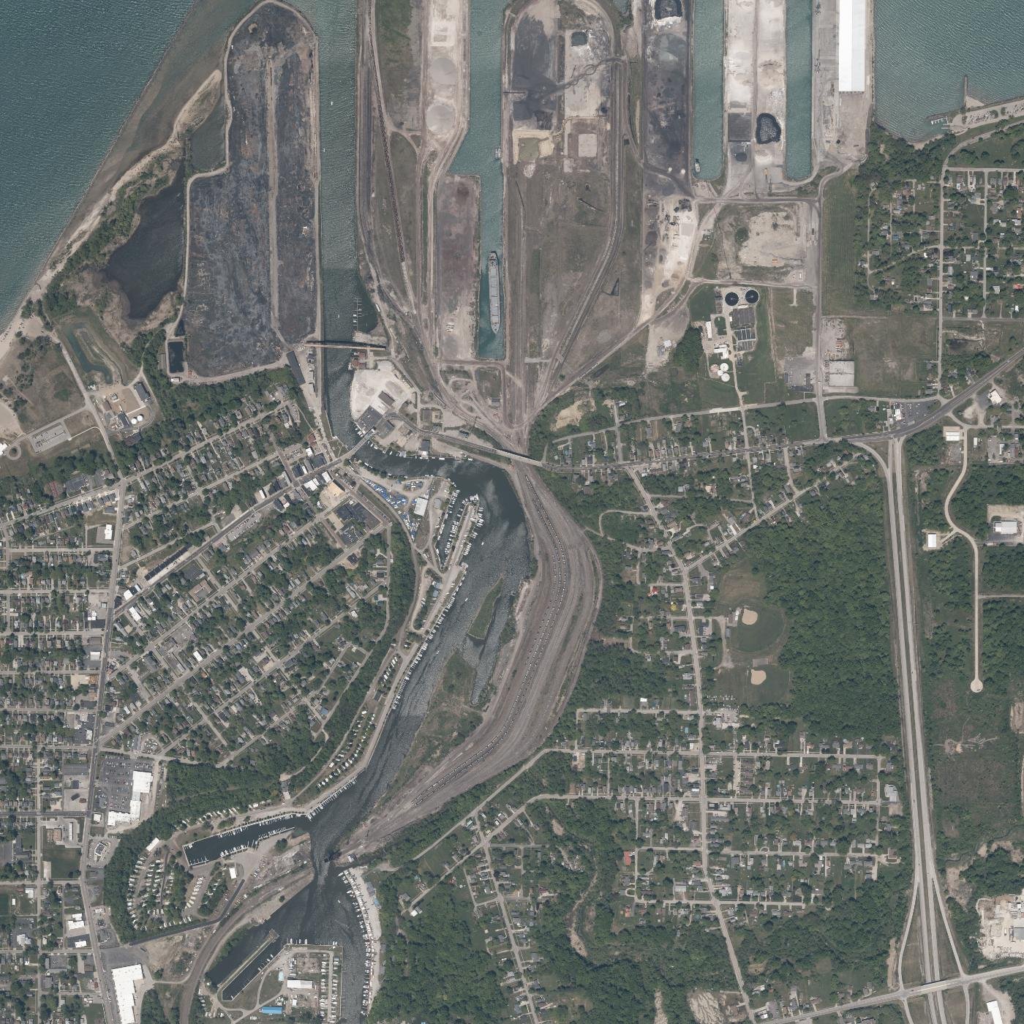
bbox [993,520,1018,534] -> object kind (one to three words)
building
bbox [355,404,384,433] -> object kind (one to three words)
building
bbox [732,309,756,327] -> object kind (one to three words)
house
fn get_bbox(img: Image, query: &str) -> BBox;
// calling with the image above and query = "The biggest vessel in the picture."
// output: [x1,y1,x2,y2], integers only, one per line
[488,250,501,334]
